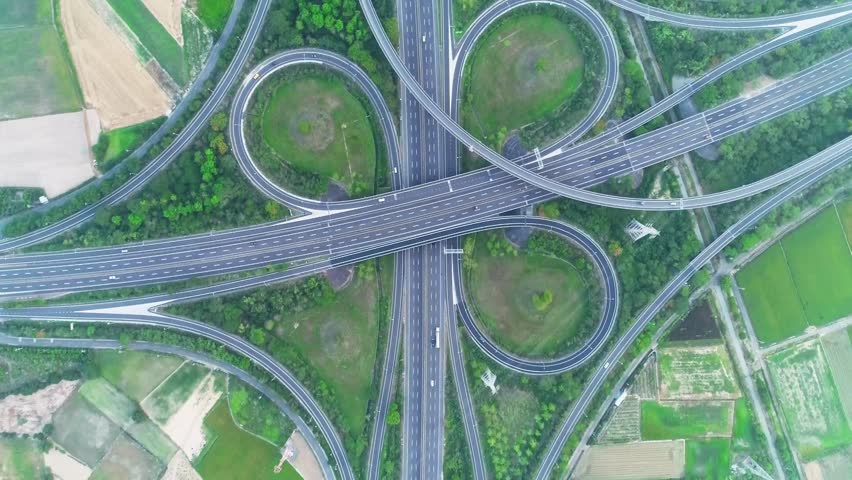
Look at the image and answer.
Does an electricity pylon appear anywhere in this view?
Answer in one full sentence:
Yes, I can see an electricity pylon in this picture.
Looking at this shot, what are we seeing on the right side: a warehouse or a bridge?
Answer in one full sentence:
The one visible on the right side is a bridge.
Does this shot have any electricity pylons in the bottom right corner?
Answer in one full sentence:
Yes, there is an electricity pylon in the bottom right corner.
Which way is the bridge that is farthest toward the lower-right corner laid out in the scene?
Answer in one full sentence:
The bridge that is farthest toward the lower-right corner has been laid out at an angle relative to the frame.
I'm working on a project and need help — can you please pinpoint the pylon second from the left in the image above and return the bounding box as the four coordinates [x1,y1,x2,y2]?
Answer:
[479,367,500,394]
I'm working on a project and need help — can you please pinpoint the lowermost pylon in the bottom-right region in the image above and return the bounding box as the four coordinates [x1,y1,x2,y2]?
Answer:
[740,454,785,480]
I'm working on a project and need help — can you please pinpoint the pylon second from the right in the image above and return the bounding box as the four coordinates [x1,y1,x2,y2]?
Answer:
[623,218,662,242]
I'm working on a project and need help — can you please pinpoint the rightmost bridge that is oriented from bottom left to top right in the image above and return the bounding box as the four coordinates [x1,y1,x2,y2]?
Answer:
[688,229,734,271]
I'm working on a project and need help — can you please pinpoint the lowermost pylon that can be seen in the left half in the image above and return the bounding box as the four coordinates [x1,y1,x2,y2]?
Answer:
[272,443,297,472]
